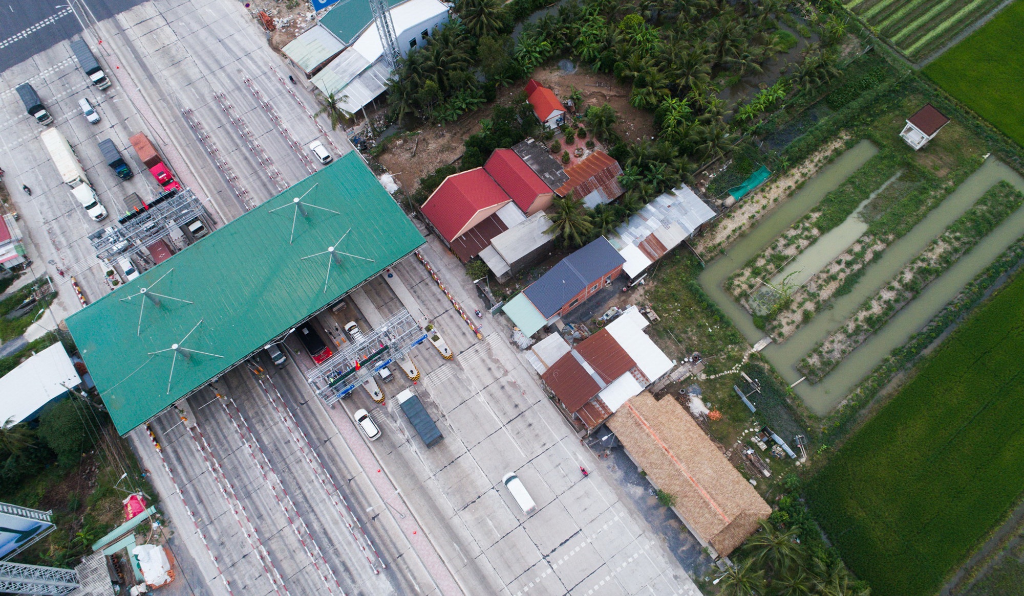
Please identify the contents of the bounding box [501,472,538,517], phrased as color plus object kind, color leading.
white vehicle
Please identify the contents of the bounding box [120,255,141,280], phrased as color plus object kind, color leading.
white car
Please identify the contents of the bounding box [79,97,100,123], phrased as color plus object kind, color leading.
white car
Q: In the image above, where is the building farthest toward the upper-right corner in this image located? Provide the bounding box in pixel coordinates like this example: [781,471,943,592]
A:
[895,103,951,153]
